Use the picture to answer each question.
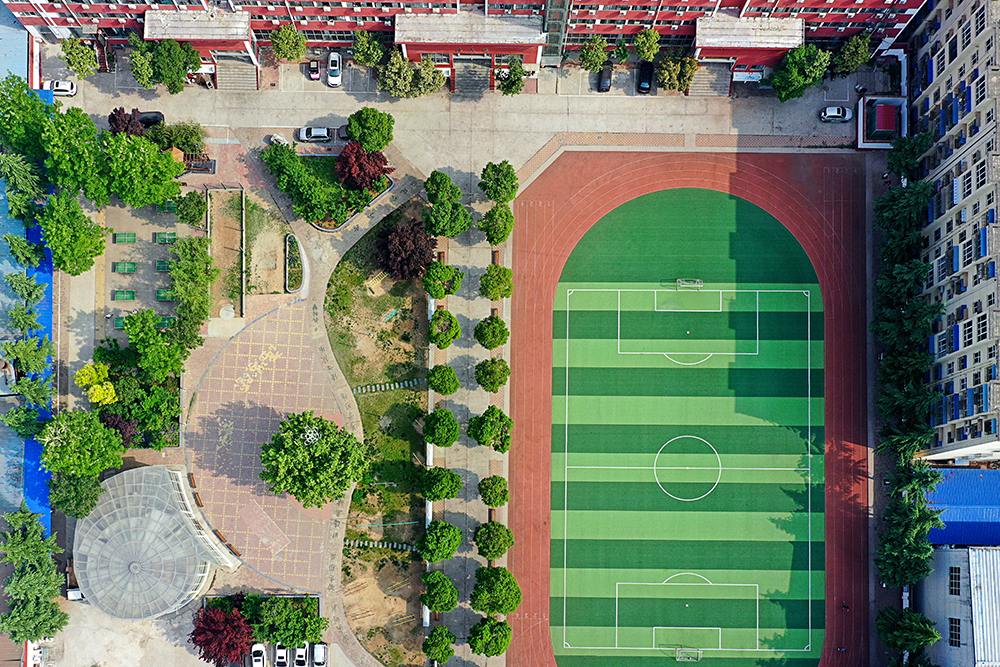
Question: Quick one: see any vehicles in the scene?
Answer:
Yes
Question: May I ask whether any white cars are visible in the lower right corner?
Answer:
No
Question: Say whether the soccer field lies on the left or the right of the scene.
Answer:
right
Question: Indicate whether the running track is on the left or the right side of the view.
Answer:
right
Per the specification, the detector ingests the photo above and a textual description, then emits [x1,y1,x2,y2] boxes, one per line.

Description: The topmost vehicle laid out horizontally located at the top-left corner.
[43,79,77,97]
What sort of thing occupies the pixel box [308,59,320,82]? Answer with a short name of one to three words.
vehicle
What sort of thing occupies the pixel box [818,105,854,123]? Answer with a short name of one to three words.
car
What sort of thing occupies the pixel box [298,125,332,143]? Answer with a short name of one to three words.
car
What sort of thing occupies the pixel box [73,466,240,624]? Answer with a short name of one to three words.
building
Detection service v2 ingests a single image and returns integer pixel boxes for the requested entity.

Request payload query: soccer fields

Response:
[551,188,825,667]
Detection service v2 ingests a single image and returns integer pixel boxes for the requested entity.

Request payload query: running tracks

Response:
[506,151,868,667]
